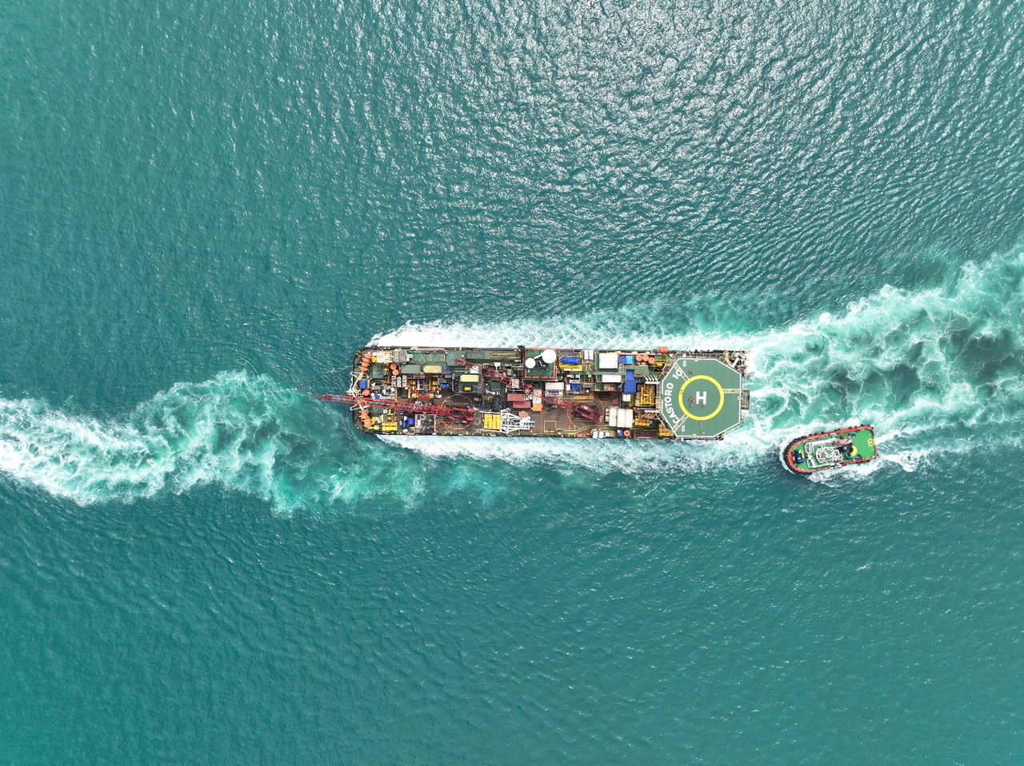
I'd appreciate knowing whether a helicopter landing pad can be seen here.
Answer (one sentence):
Yes, this view includes a helicopter landing pad.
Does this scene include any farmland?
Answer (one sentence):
No, no farmland is visible.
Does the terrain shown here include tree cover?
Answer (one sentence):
No, the picture contains no tree cover.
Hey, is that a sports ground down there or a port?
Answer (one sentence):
The area seen from above is a port.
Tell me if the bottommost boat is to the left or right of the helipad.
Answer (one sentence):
The helipad has the bottommost boat on its right side.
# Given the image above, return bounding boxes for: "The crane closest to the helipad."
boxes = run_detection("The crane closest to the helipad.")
[455,357,606,427]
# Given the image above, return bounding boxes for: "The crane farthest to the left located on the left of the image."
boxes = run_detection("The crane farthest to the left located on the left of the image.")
[313,394,474,423]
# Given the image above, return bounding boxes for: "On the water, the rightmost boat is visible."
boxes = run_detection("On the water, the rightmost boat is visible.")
[780,426,878,470]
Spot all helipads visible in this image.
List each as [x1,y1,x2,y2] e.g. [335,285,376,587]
[658,355,744,441]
